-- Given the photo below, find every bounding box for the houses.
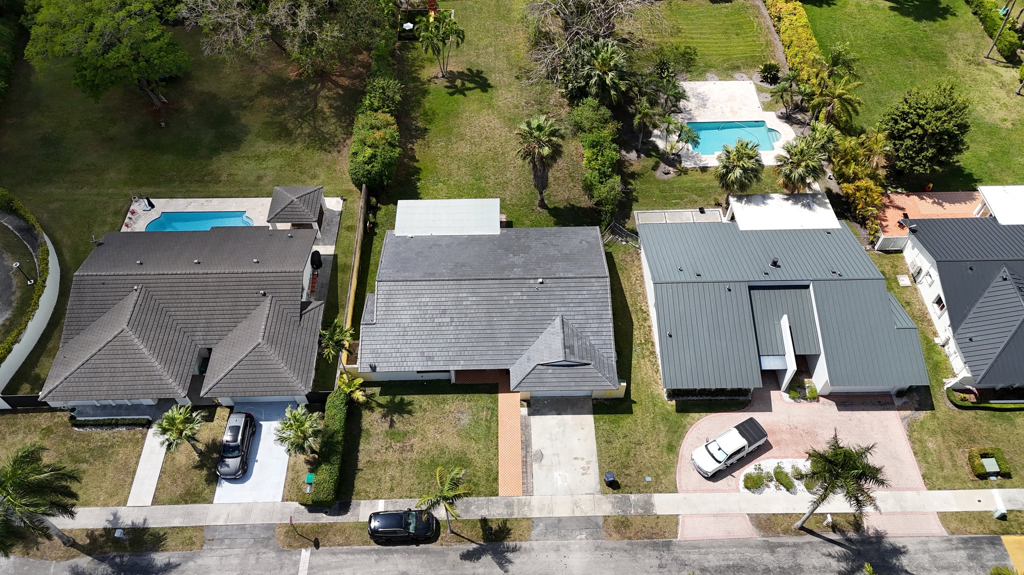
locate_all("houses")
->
[356,226,629,398]
[900,217,1024,397]
[37,225,325,407]
[636,220,930,397]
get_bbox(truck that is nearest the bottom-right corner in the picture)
[696,417,768,475]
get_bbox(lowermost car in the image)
[366,508,437,544]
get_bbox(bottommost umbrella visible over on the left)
[130,188,154,210]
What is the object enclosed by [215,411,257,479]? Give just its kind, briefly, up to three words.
car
